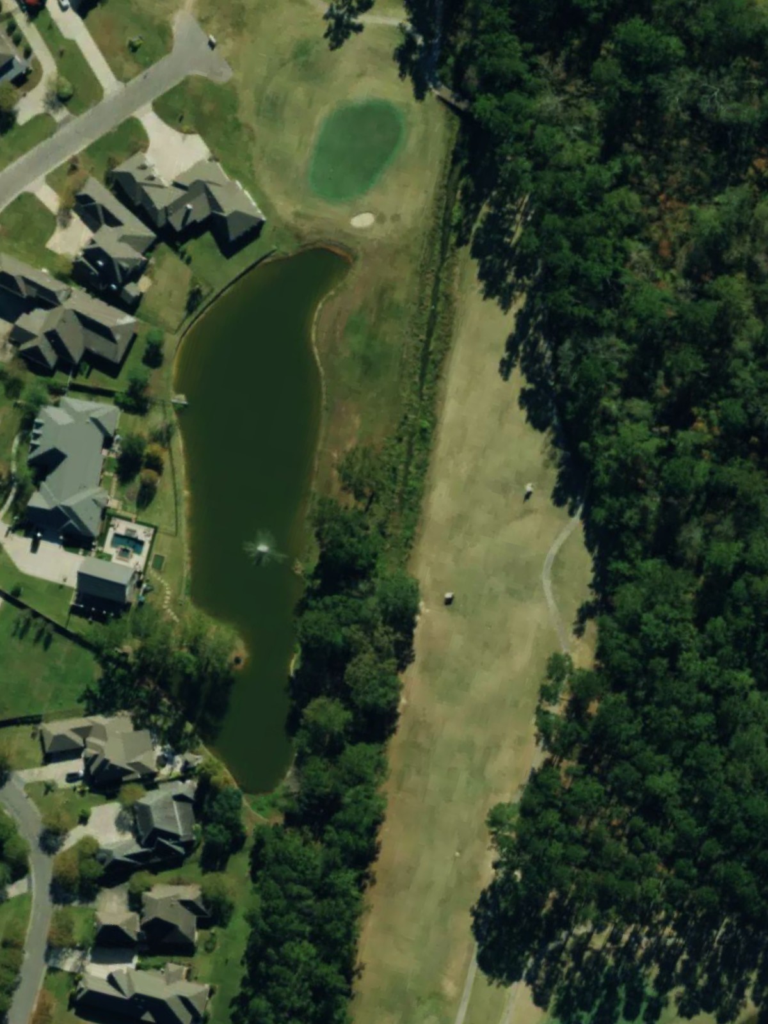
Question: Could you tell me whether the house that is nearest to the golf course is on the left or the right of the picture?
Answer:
left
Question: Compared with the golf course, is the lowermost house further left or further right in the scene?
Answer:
on its left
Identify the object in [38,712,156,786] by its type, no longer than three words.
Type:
house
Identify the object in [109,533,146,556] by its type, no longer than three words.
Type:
swimming pool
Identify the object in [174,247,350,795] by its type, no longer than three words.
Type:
pond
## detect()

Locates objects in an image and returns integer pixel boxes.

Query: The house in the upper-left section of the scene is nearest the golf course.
[113,150,265,244]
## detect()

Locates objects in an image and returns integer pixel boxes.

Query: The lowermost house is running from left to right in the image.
[74,964,207,1024]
